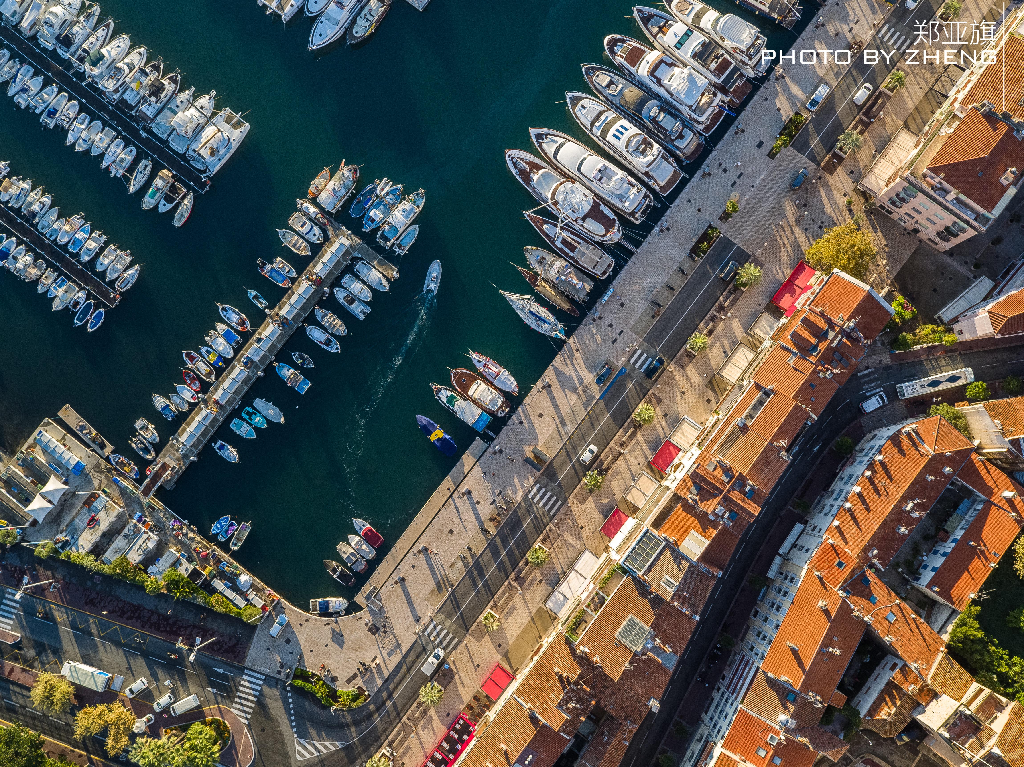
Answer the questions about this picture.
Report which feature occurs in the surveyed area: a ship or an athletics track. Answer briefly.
ship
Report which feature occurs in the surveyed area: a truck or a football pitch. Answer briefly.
truck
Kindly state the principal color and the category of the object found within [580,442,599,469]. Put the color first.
white car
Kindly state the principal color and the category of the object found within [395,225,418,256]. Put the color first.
blue boat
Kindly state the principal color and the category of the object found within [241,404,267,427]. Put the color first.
blue boat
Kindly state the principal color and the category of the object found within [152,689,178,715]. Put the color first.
white car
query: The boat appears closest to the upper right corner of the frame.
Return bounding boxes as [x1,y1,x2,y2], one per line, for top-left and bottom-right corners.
[741,0,806,38]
